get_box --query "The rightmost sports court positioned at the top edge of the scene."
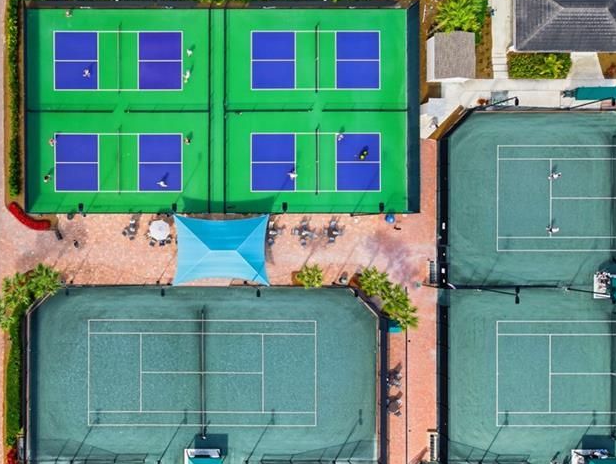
[217,8,407,111]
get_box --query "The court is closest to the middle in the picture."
[217,111,407,212]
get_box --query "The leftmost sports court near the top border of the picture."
[27,8,217,111]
